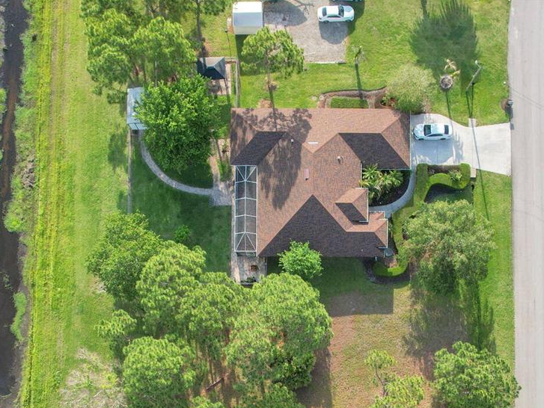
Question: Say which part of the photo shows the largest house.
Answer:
center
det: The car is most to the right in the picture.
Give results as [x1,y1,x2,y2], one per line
[413,123,450,140]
